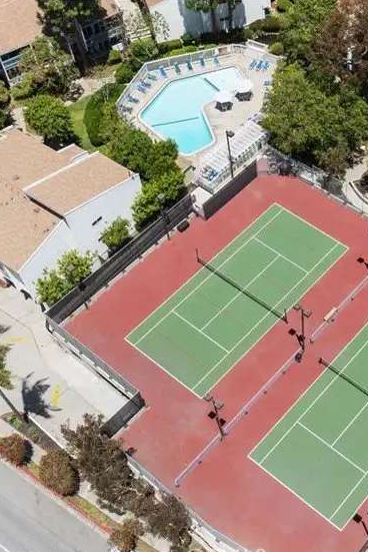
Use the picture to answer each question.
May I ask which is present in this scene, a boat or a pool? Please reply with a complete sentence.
Of the two, only a pool appears.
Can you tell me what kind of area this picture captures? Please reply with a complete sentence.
The area seen from above is a sports ground.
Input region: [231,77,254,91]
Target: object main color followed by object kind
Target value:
white umbrella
